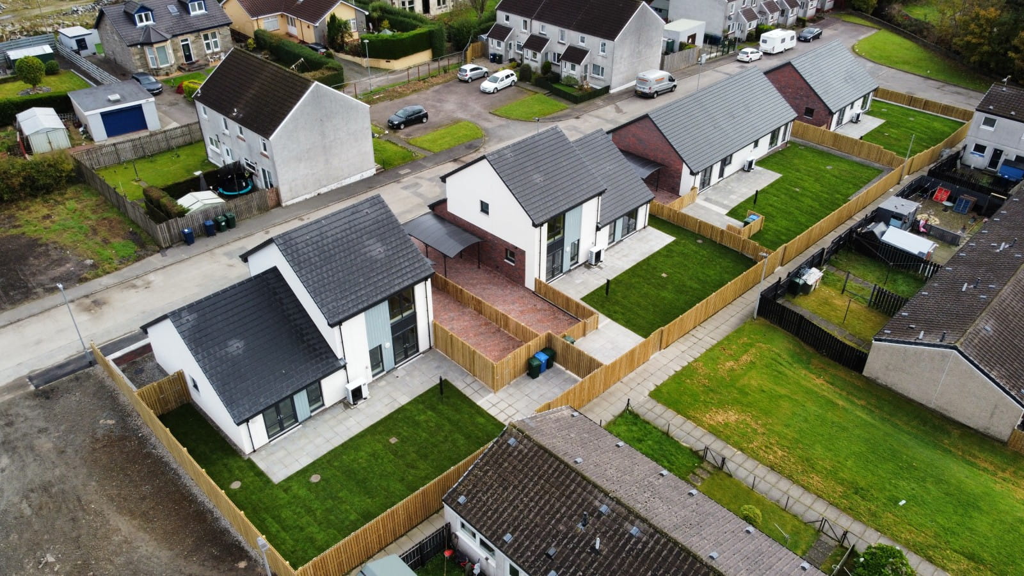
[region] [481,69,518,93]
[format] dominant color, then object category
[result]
white car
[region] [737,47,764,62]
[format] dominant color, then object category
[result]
white car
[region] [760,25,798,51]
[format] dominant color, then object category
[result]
white camper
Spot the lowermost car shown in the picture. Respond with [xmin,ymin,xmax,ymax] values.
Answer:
[390,104,429,129]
